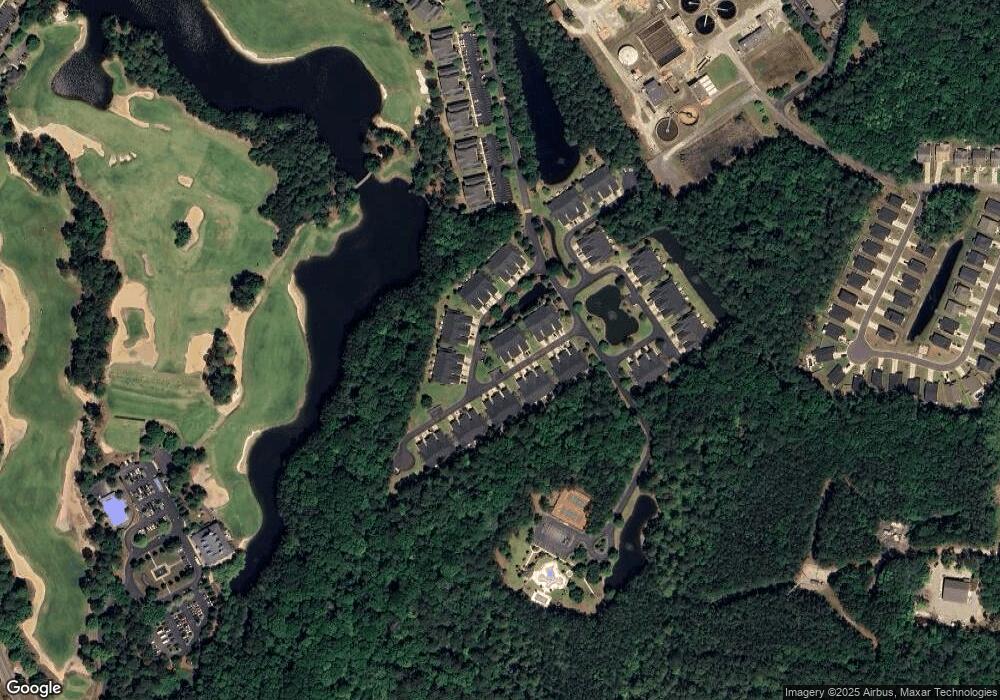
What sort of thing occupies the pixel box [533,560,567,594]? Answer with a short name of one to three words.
swimming pool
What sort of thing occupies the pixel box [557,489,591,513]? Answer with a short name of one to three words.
tennis court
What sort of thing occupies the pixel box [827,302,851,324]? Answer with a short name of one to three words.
house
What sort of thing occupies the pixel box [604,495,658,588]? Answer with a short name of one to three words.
pond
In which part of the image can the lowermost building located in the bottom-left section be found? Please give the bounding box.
[189,520,234,567]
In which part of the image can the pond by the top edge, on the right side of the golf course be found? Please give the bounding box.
[513,21,579,185]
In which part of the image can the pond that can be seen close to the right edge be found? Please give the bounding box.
[907,241,963,341]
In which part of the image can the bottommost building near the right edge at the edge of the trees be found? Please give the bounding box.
[941,577,972,604]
